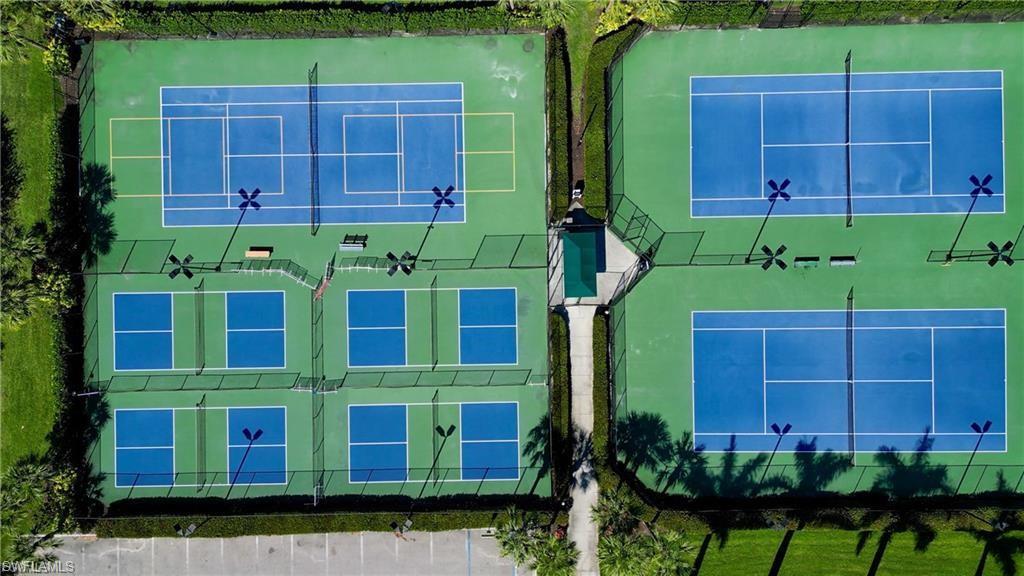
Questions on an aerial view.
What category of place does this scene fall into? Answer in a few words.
sports ground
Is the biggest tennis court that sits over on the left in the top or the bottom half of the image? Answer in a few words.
top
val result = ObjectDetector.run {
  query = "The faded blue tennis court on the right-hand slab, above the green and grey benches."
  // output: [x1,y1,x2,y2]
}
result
[690,70,1005,218]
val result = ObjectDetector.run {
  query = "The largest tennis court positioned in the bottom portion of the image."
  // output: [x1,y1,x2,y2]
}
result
[692,308,1007,452]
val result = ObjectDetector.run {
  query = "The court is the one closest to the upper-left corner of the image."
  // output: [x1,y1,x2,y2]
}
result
[110,116,283,198]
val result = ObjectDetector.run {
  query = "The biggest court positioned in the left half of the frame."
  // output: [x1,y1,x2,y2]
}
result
[160,82,466,227]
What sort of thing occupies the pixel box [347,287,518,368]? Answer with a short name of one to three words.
sports court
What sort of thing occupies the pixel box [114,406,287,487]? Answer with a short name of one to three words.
sports court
